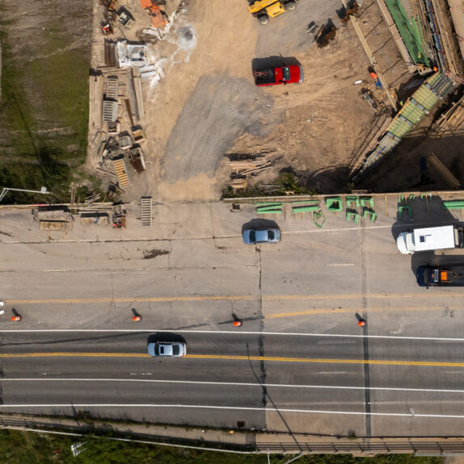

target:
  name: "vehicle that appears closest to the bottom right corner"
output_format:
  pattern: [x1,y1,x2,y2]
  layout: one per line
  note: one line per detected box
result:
[418,264,464,288]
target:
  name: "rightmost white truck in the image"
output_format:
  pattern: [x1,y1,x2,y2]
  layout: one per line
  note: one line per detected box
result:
[397,227,464,253]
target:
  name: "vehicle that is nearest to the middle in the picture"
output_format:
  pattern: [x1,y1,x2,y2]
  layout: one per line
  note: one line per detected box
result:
[243,225,283,243]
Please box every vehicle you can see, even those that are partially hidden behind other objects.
[397,227,464,253]
[253,63,305,86]
[243,225,283,243]
[418,264,464,288]
[250,0,299,21]
[149,340,189,359]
